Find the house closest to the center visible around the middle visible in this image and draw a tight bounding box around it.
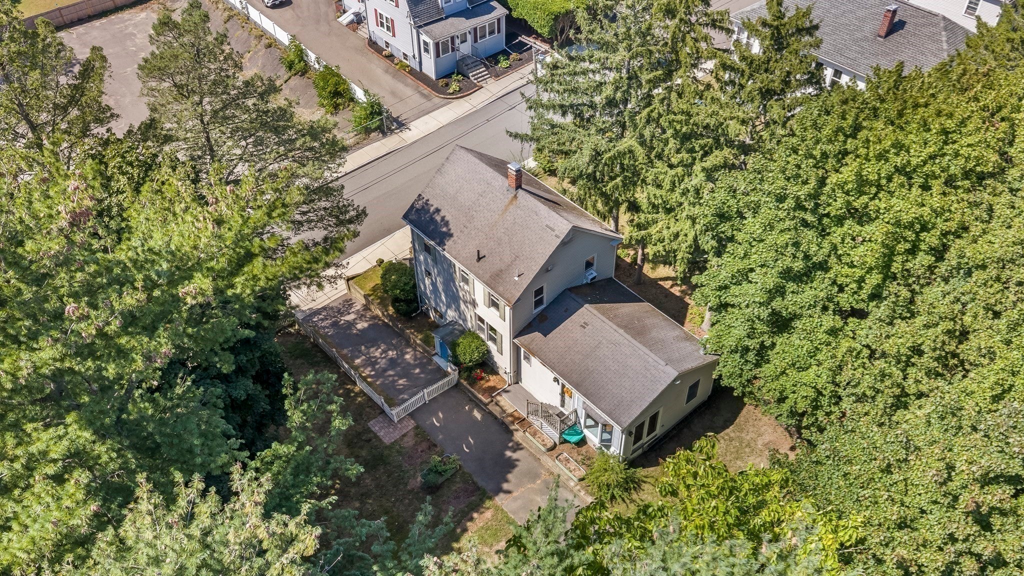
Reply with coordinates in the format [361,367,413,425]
[401,146,717,466]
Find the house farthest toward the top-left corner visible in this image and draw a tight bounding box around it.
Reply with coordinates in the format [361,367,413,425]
[335,0,513,78]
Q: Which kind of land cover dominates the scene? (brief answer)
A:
trees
